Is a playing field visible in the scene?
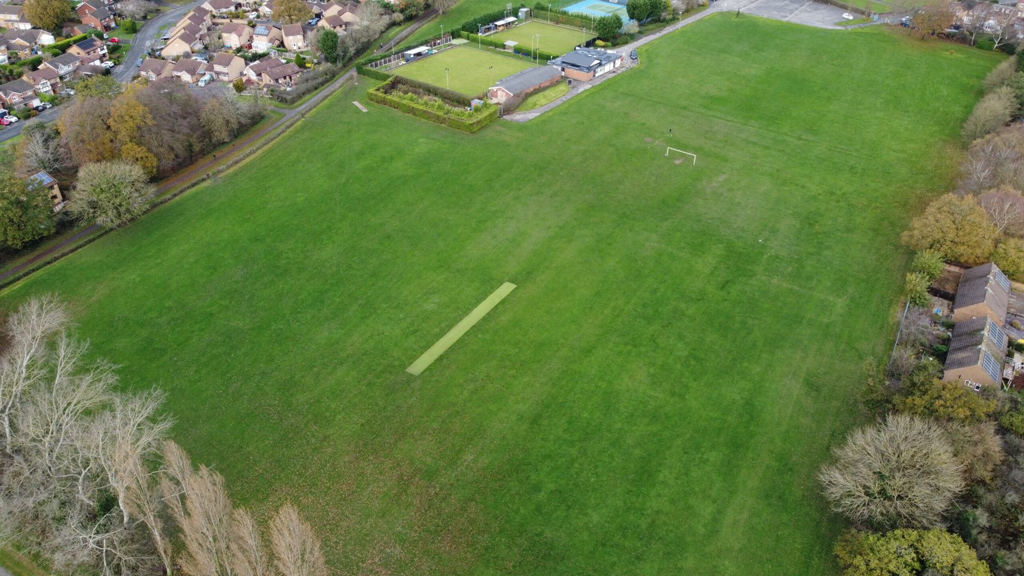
Yes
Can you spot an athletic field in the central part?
Yes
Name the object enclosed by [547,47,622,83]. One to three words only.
building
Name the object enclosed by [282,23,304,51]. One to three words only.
house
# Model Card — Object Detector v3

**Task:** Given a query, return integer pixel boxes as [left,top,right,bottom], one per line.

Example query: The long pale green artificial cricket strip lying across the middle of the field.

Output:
[406,282,517,376]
